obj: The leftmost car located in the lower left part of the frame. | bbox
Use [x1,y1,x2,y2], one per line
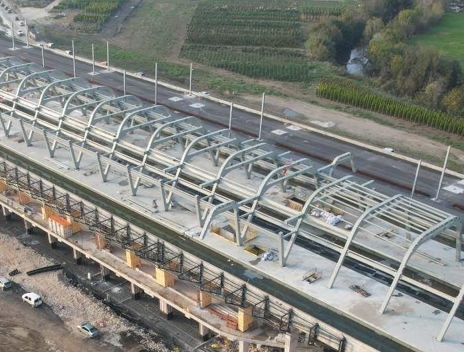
[0,277,13,292]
